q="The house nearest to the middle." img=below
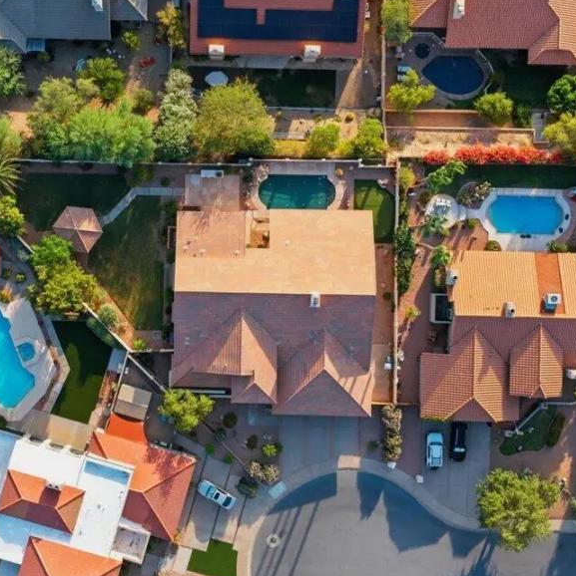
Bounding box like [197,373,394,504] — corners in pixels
[170,168,376,417]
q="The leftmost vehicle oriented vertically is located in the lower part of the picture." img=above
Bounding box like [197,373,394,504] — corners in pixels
[425,430,444,470]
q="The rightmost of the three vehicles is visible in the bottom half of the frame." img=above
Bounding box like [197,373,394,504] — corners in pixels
[449,422,469,462]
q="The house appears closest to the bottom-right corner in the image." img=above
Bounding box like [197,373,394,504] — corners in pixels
[419,251,576,422]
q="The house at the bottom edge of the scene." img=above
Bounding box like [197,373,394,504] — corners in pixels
[0,424,197,576]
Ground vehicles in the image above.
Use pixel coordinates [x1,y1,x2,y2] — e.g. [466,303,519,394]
[449,422,469,462]
[425,430,444,470]
[196,478,238,512]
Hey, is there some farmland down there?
No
